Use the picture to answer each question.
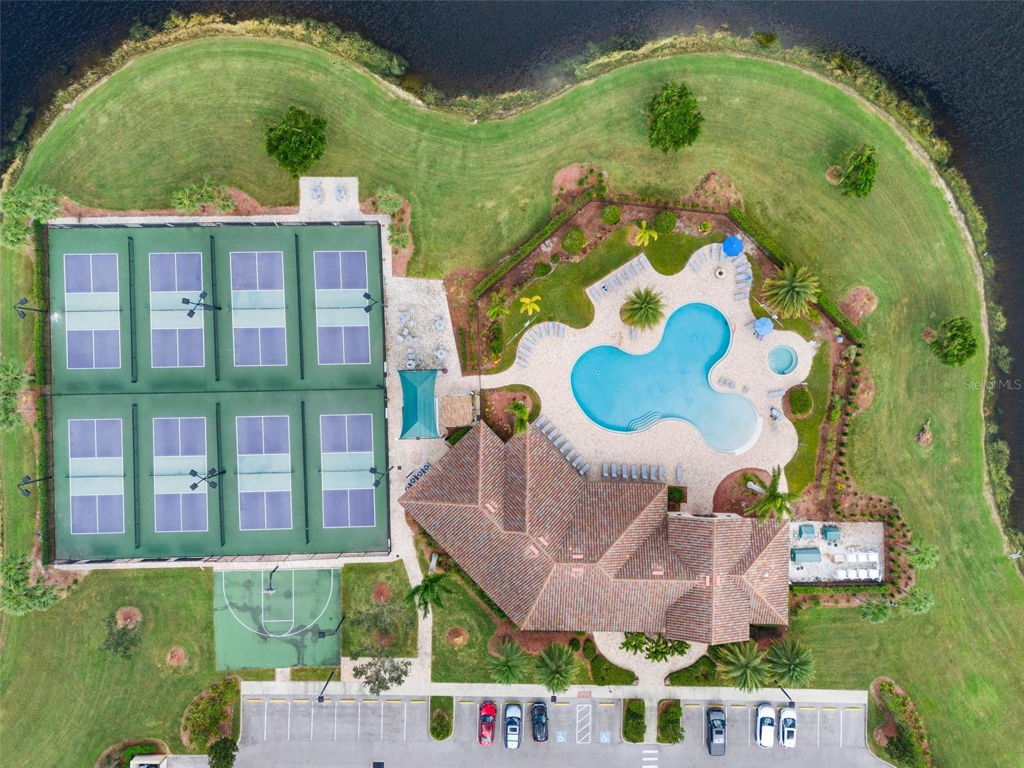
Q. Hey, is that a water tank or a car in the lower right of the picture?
car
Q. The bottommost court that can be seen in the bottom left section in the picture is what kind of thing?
basketball court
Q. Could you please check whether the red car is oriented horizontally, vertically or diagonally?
vertically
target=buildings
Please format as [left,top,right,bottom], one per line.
[398,420,790,645]
[442,396,473,427]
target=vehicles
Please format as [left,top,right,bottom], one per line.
[778,708,800,749]
[503,703,524,750]
[478,701,498,747]
[706,708,728,757]
[530,702,550,743]
[755,704,778,748]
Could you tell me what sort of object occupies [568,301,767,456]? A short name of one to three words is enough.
swimming pool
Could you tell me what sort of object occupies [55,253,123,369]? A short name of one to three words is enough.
sports court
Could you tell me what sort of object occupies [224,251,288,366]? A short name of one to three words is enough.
sports court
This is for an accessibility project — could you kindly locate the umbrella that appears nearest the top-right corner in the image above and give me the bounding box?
[721,236,743,257]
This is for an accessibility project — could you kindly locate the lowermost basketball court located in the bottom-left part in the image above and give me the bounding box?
[213,567,341,670]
